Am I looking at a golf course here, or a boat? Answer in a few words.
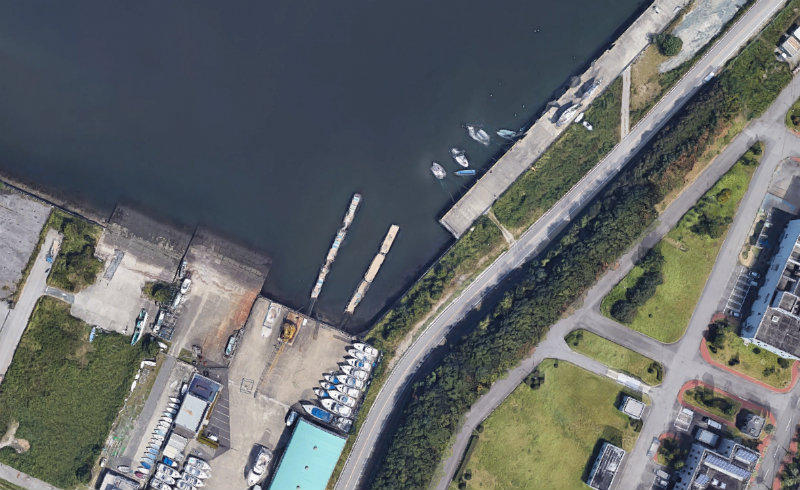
boat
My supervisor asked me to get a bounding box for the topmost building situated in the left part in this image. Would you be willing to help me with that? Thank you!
[185,373,227,409]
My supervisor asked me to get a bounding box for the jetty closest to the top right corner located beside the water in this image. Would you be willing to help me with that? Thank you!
[440,0,691,238]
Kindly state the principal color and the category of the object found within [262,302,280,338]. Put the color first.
white boat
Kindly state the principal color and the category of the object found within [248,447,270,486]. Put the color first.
white boat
